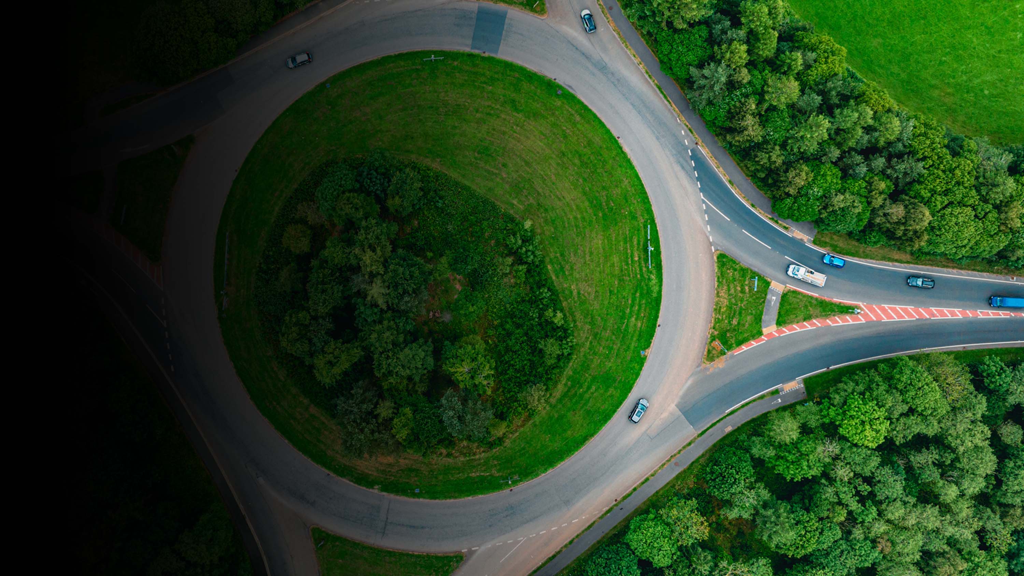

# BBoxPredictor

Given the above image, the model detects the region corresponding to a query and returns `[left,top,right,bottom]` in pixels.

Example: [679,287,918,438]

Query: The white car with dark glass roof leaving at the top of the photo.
[581,9,597,34]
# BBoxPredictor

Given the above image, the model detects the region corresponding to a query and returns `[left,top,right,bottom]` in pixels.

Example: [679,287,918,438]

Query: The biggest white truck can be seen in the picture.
[785,263,828,288]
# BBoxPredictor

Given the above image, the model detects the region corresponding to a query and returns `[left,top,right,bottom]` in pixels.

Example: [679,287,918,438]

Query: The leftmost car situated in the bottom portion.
[629,398,648,425]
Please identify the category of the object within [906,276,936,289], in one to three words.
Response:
vehicle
